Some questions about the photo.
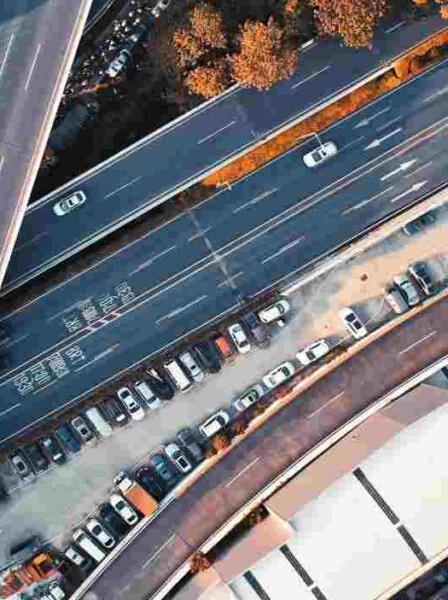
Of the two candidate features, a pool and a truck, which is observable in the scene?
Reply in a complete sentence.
The image shows a truck.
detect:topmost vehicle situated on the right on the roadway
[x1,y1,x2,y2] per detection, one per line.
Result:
[302,140,338,167]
